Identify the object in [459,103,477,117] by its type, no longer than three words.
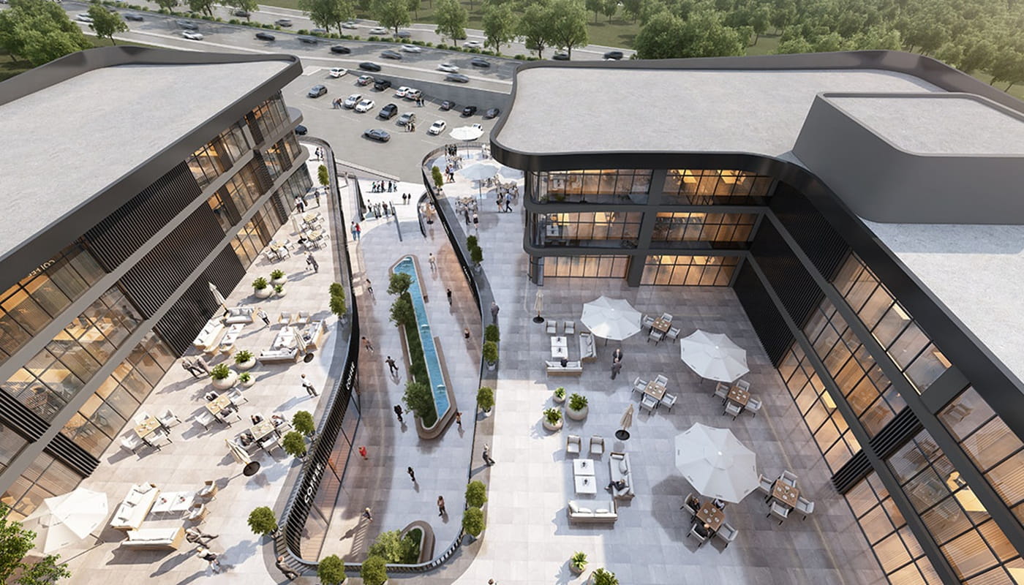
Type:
car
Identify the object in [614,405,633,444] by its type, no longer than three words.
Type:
umbrella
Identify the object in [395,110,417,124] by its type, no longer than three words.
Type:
car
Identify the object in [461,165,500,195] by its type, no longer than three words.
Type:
umbrella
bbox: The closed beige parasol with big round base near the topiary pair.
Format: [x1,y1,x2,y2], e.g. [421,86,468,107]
[227,438,261,478]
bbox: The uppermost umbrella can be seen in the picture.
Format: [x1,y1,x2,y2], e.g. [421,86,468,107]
[450,130,483,144]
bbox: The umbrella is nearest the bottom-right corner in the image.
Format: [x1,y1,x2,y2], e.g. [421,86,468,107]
[670,423,760,507]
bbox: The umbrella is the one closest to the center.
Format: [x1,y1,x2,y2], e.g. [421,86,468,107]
[532,289,545,325]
